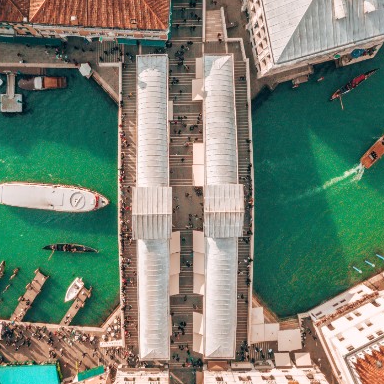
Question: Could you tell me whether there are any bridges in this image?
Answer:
Yes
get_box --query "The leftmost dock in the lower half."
[6,268,49,322]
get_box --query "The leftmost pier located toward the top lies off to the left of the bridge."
[0,68,24,113]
